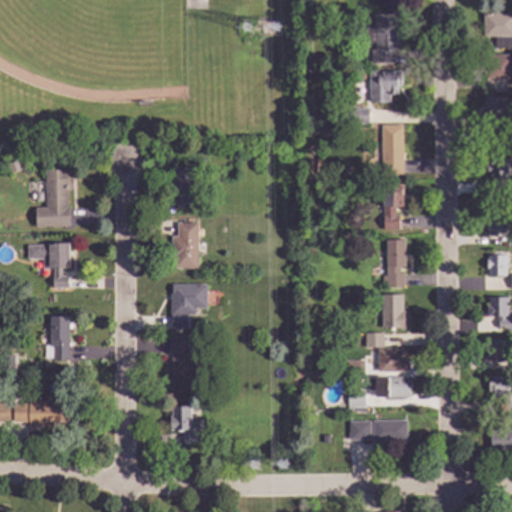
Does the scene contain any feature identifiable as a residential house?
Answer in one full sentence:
Yes, looking at the shot, I can spot a residential house.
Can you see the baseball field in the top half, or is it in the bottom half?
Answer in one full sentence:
The baseball field is in the top half of the image.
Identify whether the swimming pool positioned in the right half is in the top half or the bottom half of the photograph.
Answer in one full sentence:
The swimming pool positioned in the right half sits in the bottom half of the picture.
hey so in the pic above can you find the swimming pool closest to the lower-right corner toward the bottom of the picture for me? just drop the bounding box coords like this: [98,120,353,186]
[323,384,344,407]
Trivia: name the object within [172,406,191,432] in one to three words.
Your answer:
house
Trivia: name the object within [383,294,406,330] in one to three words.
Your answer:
house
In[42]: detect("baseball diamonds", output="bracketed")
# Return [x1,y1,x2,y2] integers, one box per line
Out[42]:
[0,0,188,101]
